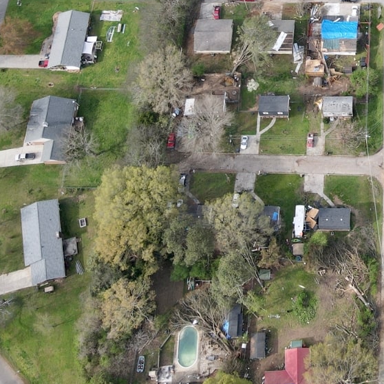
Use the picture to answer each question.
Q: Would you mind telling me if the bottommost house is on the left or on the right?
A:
right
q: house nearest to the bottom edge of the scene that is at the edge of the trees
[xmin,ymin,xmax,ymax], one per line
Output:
[264,349,335,384]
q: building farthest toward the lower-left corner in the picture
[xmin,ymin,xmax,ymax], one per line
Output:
[22,198,68,285]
